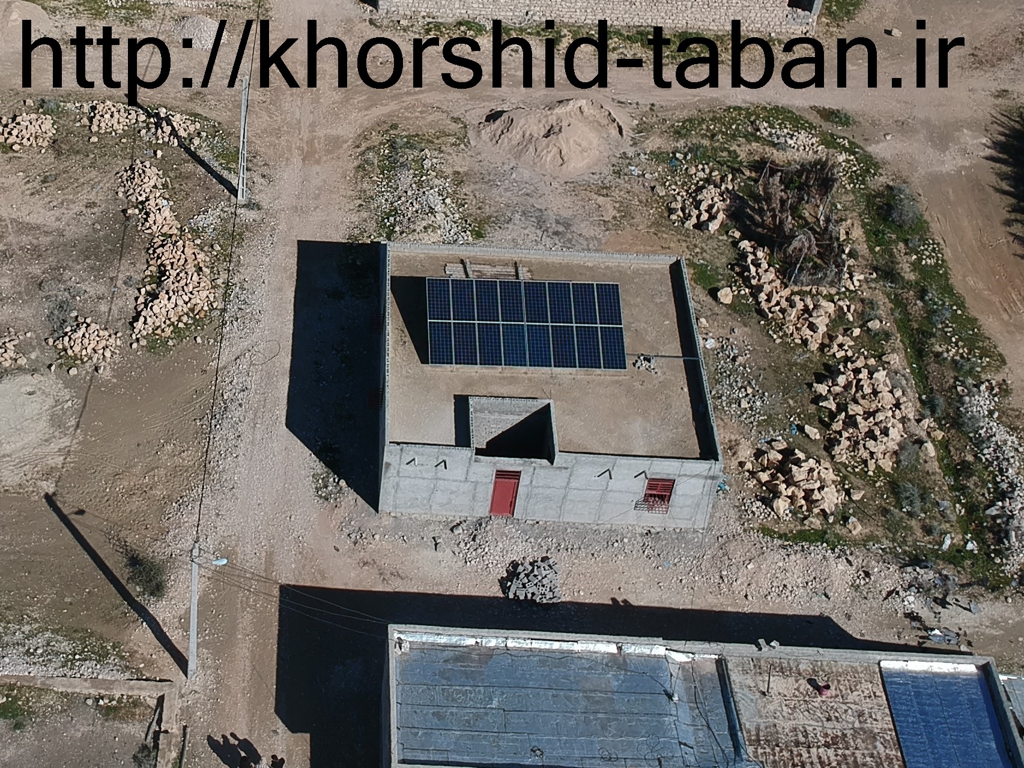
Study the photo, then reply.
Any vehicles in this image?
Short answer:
No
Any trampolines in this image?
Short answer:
No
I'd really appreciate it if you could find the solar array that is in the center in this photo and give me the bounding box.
[427,276,627,372]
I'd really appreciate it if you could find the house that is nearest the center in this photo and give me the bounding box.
[374,241,724,531]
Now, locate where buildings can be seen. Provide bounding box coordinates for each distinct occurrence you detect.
[374,241,724,531]
[381,624,1018,768]
[377,0,823,34]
